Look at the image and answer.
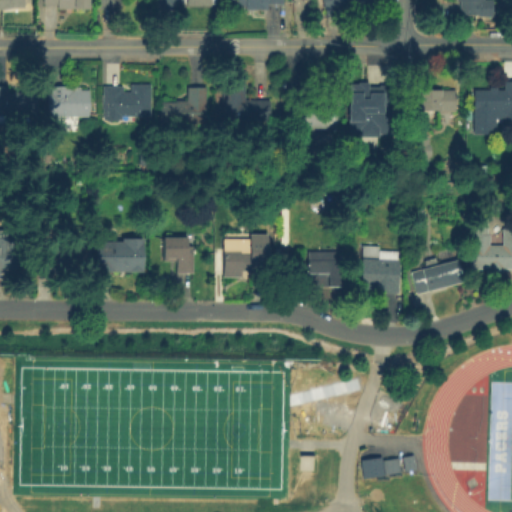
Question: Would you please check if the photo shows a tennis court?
No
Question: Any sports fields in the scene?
Yes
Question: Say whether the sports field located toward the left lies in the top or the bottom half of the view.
bottom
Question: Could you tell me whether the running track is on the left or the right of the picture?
right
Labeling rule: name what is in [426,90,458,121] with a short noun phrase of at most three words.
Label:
house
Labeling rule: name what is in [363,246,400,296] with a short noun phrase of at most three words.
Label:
house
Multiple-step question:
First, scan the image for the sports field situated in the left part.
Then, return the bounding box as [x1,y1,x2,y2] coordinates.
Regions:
[14,357,290,498]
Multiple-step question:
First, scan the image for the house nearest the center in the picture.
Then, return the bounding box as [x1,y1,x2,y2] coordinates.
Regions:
[224,234,270,280]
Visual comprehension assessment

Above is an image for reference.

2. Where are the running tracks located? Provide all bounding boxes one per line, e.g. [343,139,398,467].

[424,344,512,512]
